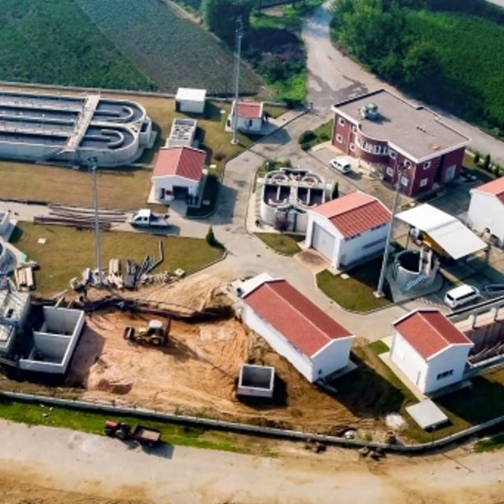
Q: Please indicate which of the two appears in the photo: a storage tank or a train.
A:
storage tank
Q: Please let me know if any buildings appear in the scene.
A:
Yes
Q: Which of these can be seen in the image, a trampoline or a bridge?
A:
bridge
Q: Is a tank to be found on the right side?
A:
Yes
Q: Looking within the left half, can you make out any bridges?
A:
Yes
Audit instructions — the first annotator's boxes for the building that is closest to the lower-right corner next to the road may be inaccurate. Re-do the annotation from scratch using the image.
[390,307,474,393]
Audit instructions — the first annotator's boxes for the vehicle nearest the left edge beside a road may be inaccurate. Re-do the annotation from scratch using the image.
[101,419,131,441]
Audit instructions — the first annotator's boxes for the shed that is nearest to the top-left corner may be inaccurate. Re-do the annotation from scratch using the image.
[176,90,205,113]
